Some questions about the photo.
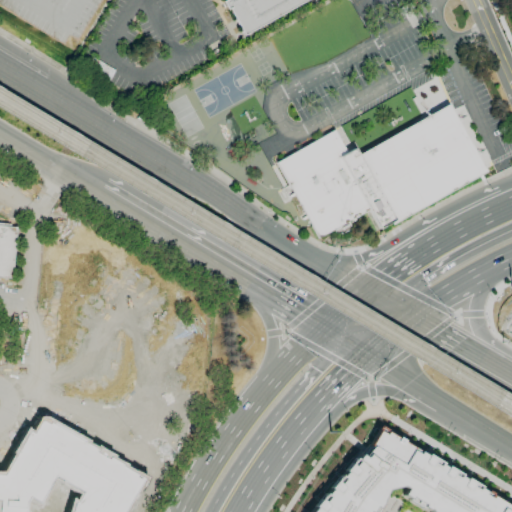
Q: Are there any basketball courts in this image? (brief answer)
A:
Yes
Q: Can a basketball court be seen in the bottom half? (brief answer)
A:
No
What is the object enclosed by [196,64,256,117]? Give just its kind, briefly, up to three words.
basketball court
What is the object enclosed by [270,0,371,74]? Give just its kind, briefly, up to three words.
sports field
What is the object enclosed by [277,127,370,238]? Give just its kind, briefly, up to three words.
building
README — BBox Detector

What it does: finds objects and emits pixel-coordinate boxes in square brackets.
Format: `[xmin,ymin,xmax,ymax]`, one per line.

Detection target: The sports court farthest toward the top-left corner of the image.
[170,95,204,136]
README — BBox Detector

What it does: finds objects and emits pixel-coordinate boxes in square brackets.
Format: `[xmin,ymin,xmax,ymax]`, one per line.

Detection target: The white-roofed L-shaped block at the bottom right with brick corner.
[309,426,512,512]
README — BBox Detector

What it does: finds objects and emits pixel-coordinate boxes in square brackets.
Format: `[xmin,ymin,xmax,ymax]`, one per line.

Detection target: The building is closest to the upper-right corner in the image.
[361,104,484,219]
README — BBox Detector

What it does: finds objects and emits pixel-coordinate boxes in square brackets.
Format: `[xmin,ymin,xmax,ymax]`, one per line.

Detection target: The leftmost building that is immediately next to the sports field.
[226,0,308,36]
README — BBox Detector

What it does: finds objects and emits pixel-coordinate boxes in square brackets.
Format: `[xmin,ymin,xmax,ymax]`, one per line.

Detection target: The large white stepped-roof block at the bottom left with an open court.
[0,416,149,512]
